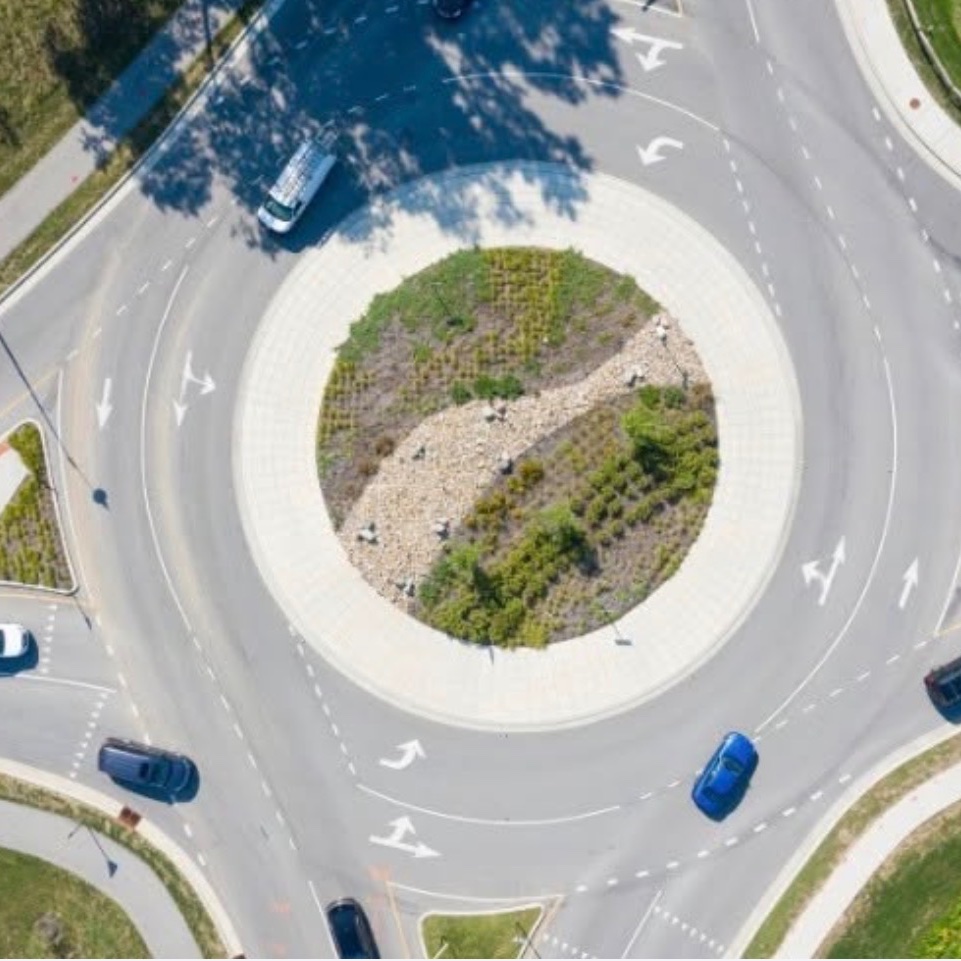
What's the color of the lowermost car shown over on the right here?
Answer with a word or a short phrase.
blue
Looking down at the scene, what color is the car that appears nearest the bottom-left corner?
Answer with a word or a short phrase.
blue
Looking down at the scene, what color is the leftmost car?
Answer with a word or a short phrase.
white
